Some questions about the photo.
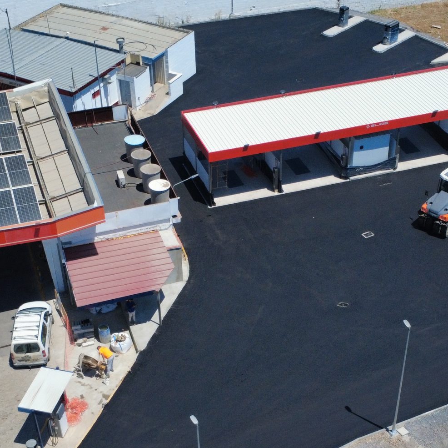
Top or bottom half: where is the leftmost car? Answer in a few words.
bottom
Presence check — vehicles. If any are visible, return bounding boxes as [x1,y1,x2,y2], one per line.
[8,302,53,362]
[413,163,448,234]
